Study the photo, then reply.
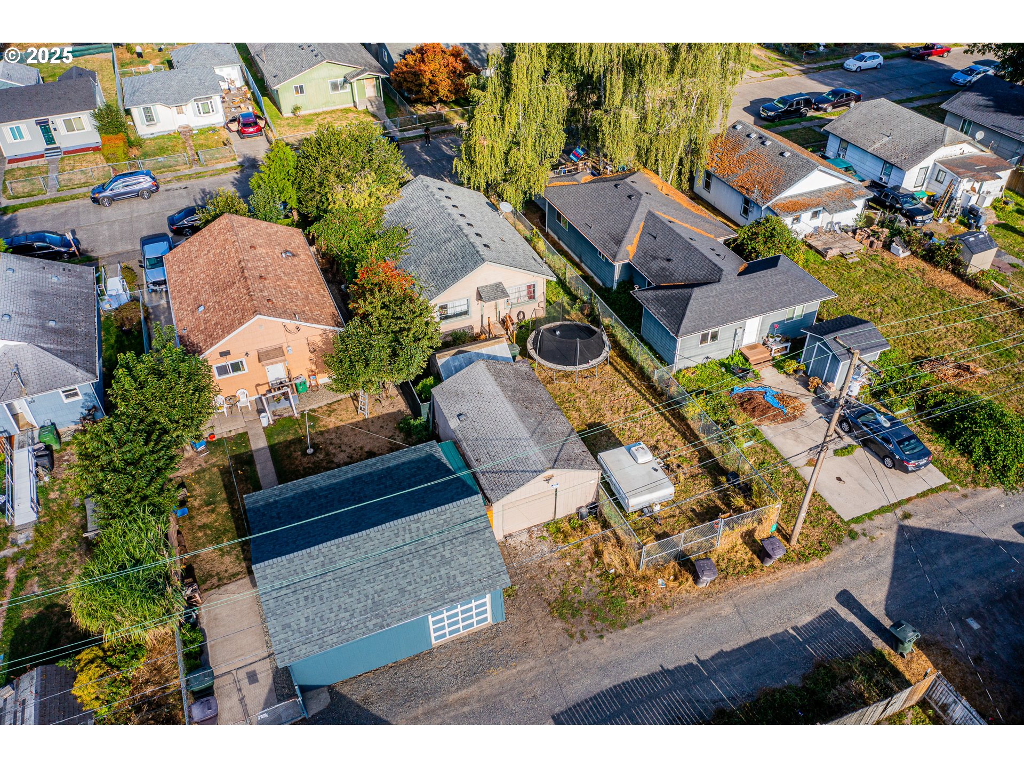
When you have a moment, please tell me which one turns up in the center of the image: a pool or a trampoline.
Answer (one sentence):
The feature located in the center of the image is a trampoline.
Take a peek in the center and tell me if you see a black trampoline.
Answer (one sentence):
Yes, looking in the center, one can make out a black trampoline.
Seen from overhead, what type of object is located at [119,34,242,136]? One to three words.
house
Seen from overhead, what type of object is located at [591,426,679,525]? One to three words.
trailer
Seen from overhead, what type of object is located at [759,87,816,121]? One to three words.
car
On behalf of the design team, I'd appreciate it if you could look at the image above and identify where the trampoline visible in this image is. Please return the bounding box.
[526,301,603,381]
